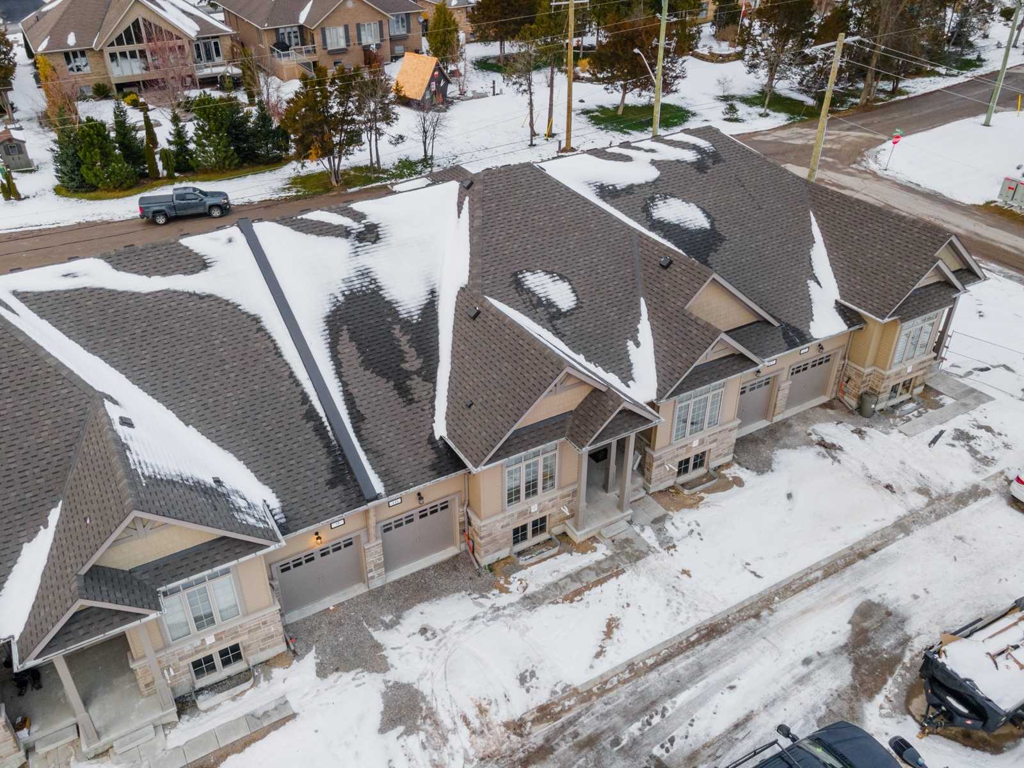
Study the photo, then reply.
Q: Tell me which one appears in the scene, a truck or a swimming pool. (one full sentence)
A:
The image shows a truck.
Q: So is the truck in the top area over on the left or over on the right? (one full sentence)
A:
You can find the truck in the top area on the left side of the picture.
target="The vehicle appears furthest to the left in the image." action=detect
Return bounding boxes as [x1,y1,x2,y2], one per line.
[137,183,230,222]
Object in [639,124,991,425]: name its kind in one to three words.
house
